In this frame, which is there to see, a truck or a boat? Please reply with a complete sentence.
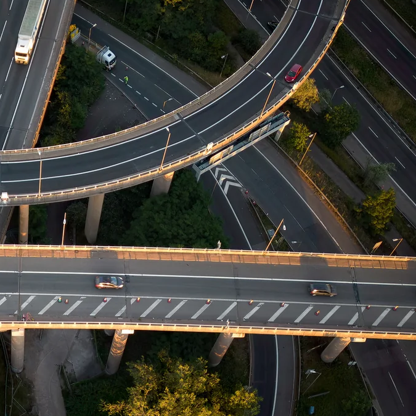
This aerial view contains a truck.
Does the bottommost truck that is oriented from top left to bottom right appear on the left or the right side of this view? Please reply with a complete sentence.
The bottommost truck that is oriented from top left to bottom right sits on the left side.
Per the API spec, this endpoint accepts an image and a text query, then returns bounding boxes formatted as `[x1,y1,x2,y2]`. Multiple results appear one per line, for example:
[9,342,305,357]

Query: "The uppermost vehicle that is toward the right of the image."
[267,14,282,30]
